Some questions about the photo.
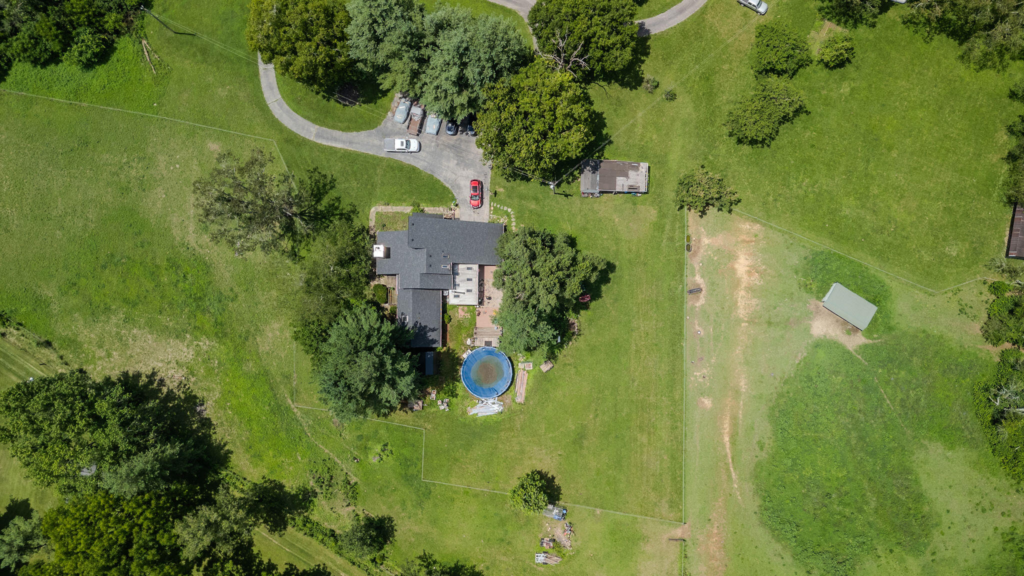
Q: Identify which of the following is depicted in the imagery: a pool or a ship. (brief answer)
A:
pool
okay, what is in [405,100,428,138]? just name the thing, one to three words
truck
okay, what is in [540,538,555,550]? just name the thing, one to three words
vehicle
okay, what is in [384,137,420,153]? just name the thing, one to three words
vehicle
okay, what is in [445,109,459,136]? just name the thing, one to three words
car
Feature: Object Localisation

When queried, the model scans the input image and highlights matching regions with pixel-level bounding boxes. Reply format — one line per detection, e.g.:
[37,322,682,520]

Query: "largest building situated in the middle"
[373,212,505,348]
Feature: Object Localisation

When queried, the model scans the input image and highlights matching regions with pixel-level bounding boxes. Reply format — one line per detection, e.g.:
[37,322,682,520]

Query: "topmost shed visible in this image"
[581,159,648,193]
